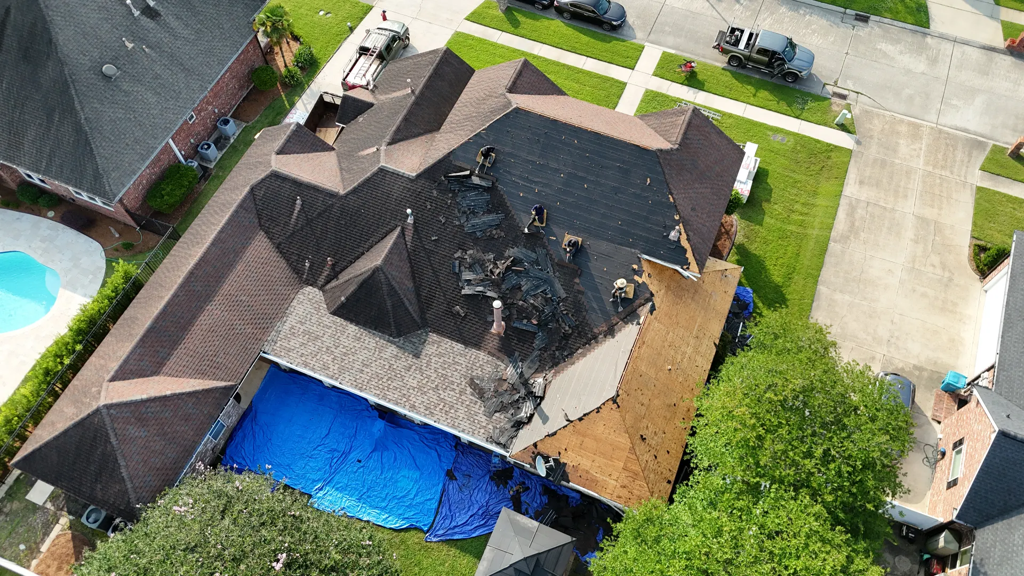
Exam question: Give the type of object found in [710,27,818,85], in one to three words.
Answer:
truck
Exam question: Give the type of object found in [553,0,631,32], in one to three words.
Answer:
car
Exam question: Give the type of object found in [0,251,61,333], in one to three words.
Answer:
swimming pool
